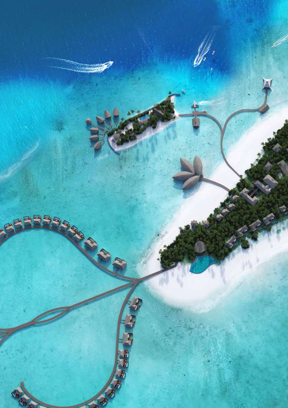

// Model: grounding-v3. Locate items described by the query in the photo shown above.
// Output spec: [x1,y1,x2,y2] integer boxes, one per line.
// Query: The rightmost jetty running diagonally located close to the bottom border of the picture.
[20,280,139,408]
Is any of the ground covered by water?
Yes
